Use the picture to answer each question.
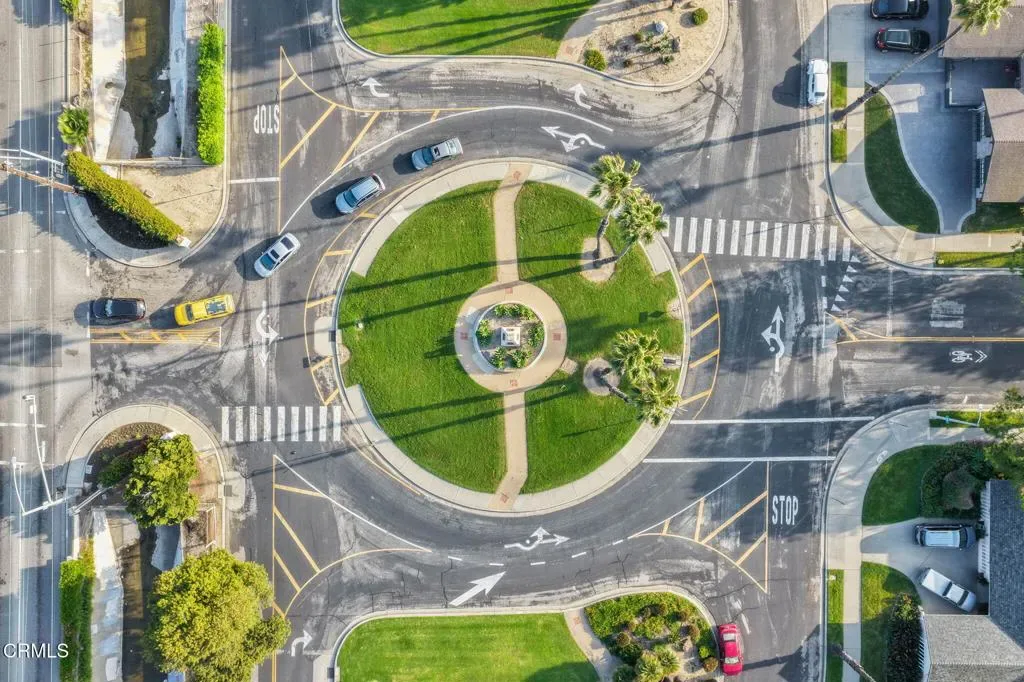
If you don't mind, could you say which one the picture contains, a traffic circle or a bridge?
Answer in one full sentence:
Of the two, only a traffic circle appears.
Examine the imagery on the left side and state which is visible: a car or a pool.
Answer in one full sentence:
The feature located on the left side is a car.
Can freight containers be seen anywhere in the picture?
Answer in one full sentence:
No, no freight container can be seen from above.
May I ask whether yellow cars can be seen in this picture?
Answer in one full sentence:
Yes, a yellow car appears in the view.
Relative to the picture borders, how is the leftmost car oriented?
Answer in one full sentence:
The leftmost car has been laid out from side to side relative to the frame.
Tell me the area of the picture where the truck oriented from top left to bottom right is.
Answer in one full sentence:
The truck oriented from top left to bottom right is located in the bottom right region of the scene.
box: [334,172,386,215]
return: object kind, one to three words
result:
car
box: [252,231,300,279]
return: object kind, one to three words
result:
car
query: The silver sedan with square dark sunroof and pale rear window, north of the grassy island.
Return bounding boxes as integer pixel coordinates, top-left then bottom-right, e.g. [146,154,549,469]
[408,137,465,169]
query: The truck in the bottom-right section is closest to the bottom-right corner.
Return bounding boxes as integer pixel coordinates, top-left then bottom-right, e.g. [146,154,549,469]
[918,567,975,613]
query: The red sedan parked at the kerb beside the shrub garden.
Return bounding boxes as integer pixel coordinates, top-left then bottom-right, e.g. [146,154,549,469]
[718,624,744,678]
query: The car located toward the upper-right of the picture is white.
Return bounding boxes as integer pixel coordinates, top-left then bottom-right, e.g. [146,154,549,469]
[807,54,834,107]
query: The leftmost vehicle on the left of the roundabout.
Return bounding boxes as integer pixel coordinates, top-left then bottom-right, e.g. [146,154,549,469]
[88,296,144,321]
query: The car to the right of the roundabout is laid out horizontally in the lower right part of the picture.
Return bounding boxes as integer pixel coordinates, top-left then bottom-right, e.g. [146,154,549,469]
[914,525,973,551]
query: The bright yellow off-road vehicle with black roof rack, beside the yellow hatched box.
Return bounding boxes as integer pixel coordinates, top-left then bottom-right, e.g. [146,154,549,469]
[173,295,235,326]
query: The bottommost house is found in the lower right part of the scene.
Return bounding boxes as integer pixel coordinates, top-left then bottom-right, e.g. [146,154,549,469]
[926,479,1024,682]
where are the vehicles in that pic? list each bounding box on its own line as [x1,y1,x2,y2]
[876,24,930,50]
[871,0,930,19]
[914,525,973,551]
[807,54,834,107]
[173,295,235,326]
[718,624,744,678]
[918,567,975,613]
[334,172,386,215]
[88,296,144,321]
[408,137,465,169]
[252,231,300,279]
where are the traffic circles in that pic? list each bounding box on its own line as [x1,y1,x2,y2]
[286,113,735,562]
